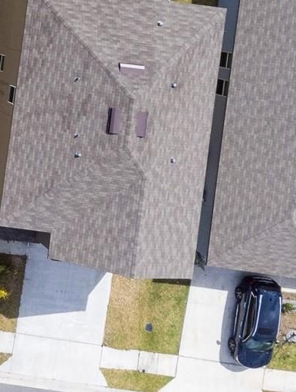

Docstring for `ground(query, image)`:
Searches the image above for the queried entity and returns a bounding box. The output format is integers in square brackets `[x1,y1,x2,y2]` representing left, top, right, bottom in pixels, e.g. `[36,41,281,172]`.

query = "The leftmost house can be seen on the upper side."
[0,0,228,281]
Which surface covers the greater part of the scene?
buildings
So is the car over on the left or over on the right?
right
